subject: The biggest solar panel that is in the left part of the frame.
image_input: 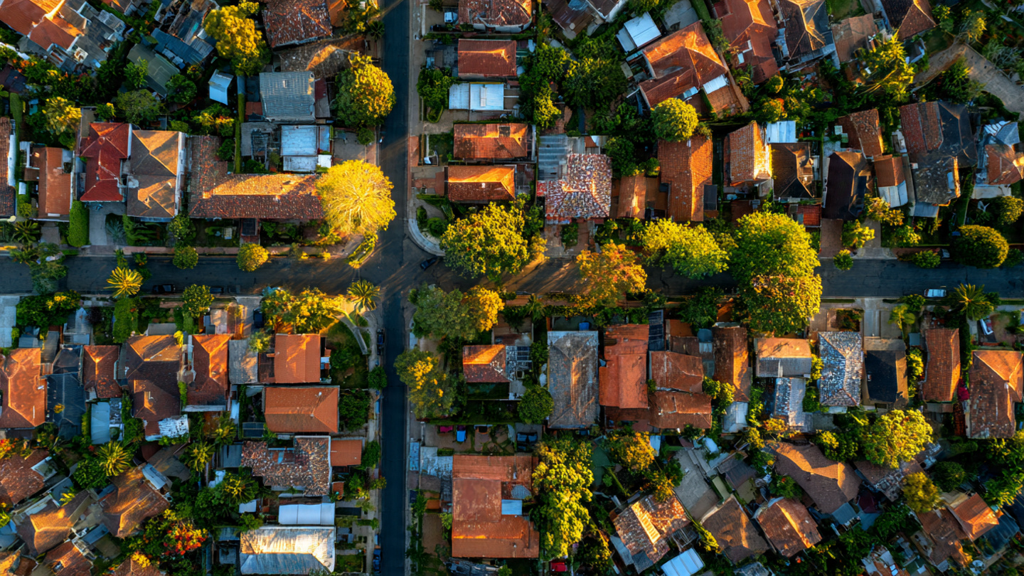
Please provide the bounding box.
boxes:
[243,424,263,438]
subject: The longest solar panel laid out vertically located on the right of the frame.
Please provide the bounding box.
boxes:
[650,310,664,351]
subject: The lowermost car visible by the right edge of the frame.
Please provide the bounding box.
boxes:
[976,318,991,337]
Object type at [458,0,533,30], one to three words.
house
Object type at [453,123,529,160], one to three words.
house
